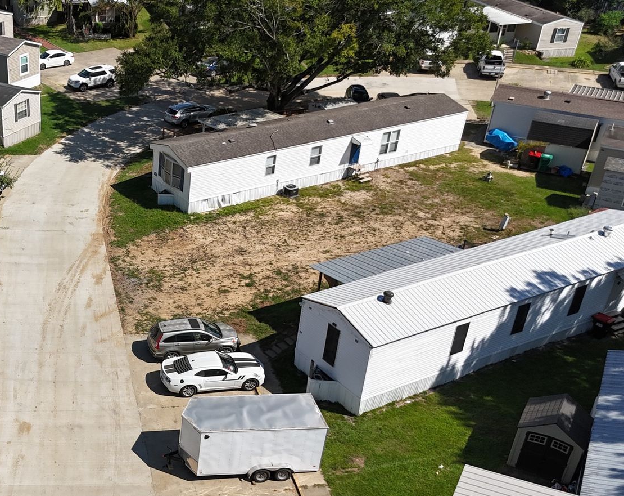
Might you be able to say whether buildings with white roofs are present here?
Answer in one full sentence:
Yes, looking at the shot, I can spot a building with a white roof.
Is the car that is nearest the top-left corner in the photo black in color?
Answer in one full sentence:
No, the car that is nearest the top-left corner is white.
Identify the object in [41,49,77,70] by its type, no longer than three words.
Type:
car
